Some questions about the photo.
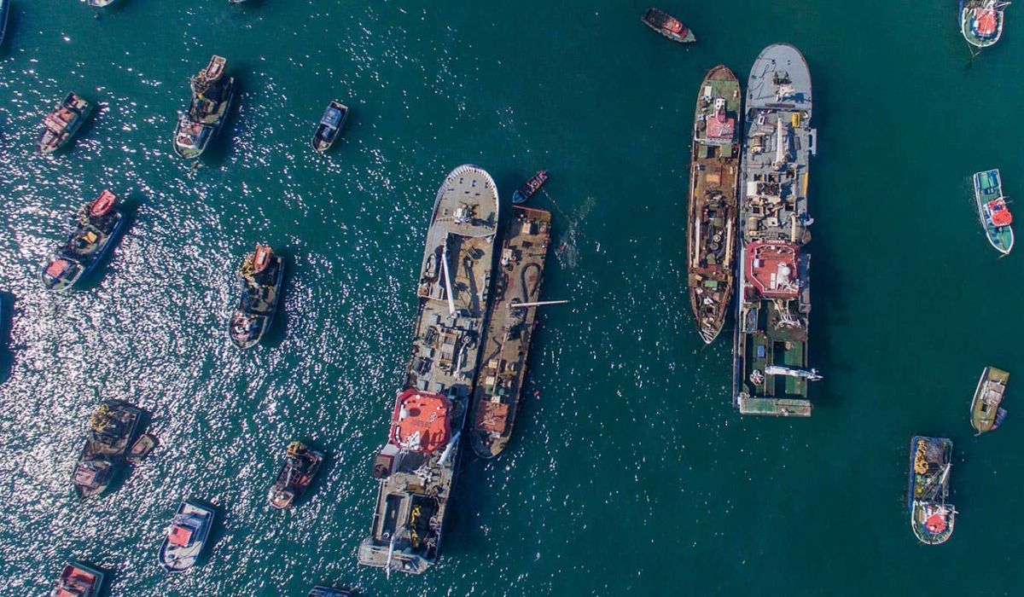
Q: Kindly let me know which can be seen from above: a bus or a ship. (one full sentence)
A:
Looking from above, you can make out a ship.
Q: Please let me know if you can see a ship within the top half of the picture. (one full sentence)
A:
Yes, a ship can be seen within the top half of the picture.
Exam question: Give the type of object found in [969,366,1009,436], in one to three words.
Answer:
boat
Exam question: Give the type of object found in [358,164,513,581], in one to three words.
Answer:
ship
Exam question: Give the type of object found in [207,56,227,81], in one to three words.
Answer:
boat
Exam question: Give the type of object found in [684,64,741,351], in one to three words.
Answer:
ship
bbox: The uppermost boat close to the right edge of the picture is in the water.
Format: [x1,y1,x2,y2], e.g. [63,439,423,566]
[960,0,1011,57]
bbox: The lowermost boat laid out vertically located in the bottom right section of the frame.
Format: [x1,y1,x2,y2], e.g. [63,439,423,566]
[907,437,959,544]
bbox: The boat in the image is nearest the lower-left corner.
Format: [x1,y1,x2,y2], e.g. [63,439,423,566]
[47,561,104,597]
